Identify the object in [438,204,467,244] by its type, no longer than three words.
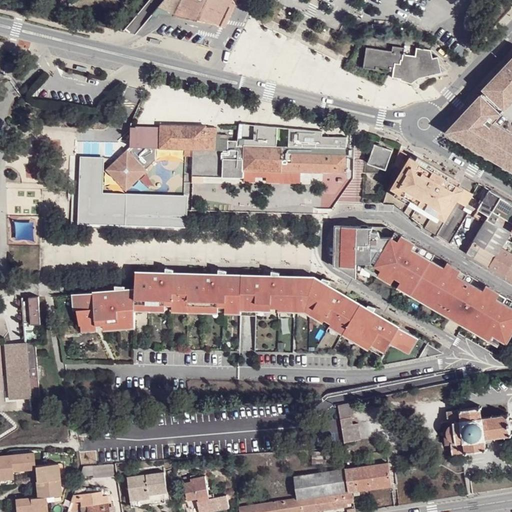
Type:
building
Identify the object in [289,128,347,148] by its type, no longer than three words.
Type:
house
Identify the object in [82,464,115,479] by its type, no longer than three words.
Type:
shed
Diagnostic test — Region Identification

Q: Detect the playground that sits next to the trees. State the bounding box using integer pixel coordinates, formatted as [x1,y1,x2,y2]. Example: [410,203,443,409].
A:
[104,149,184,193]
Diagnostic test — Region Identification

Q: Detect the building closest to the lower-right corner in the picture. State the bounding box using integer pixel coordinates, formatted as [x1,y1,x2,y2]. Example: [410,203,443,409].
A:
[445,408,512,455]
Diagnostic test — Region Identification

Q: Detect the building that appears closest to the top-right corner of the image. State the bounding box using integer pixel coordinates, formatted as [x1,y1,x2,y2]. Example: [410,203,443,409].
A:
[482,61,512,112]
